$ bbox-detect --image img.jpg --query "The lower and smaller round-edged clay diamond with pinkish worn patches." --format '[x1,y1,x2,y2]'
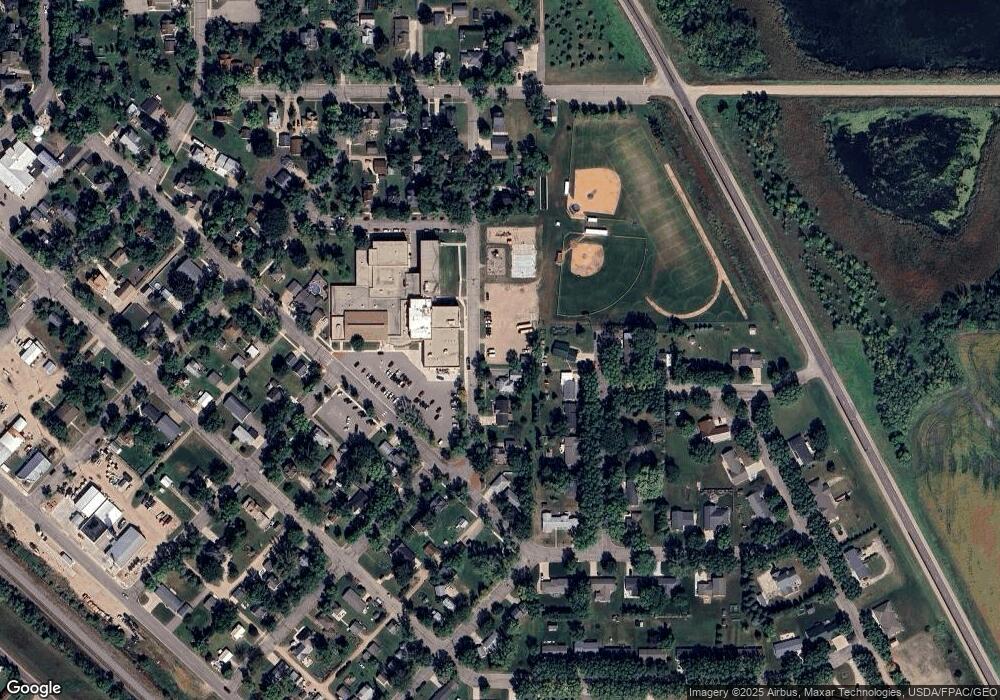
[570,240,604,276]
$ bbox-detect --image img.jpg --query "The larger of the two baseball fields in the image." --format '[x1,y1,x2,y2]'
[566,168,620,220]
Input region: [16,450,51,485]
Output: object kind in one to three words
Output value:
barn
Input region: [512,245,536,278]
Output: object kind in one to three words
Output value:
sports court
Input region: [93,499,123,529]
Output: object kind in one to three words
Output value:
shed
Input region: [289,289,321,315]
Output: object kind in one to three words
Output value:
house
